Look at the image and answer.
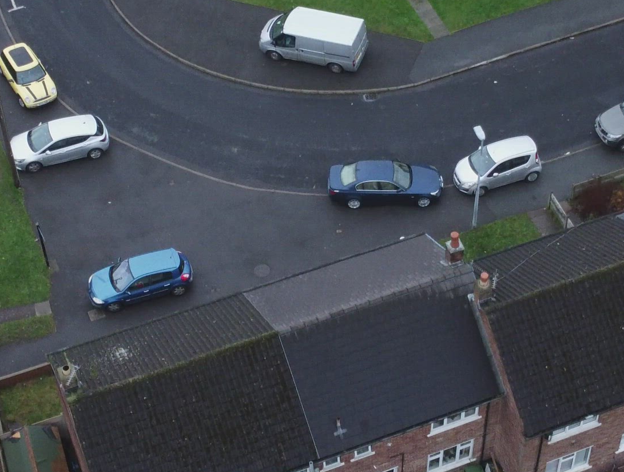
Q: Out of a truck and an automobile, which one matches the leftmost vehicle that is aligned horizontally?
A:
automobile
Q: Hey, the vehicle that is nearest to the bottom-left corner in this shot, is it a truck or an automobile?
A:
automobile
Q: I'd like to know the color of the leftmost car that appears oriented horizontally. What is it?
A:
white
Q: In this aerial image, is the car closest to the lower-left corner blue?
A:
Yes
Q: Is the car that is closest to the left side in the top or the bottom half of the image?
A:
top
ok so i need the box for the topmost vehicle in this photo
[258,6,371,74]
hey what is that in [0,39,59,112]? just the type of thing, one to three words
car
